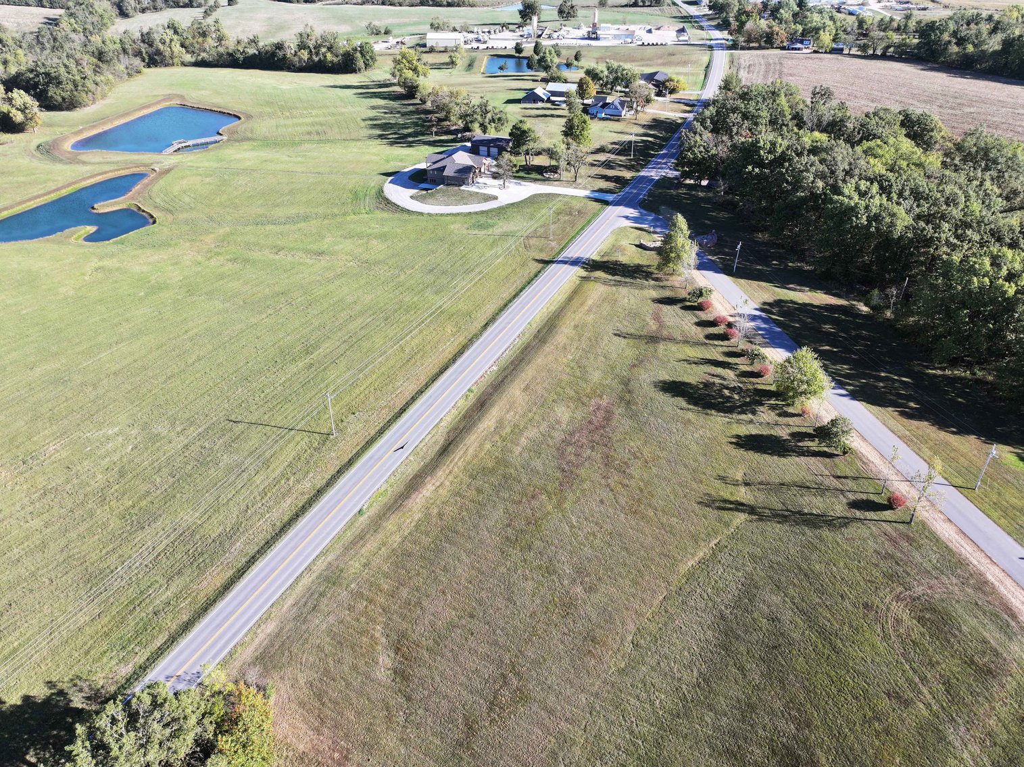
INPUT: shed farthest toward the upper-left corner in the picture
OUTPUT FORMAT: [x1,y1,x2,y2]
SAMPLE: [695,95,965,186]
[425,35,463,49]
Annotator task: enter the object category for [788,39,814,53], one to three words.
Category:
house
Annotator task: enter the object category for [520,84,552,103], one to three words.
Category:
shed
